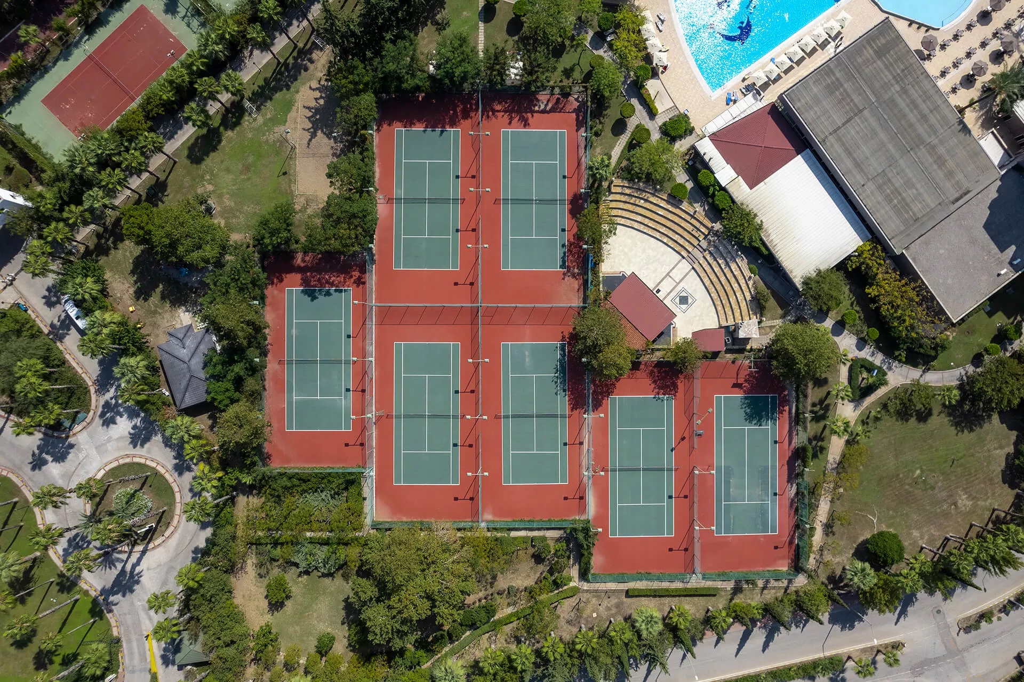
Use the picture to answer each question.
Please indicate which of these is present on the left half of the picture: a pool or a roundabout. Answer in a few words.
roundabout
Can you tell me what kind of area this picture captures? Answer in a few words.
sports ground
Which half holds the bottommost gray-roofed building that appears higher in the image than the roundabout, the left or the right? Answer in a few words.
left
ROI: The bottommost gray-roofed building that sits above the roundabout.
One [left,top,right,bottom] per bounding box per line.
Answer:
[160,324,221,410]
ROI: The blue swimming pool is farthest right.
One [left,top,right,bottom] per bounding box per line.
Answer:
[873,0,976,28]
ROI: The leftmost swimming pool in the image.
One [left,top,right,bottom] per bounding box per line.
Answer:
[669,0,852,96]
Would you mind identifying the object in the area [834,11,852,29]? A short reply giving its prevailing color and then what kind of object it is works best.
white umbrella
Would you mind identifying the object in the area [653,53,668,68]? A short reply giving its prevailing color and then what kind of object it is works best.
white umbrella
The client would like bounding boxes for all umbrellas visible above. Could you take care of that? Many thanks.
[965,61,987,78]
[750,69,768,88]
[916,35,937,53]
[809,27,827,46]
[822,20,840,38]
[773,55,791,73]
[982,0,1004,15]
[653,53,668,68]
[649,37,663,55]
[834,11,852,29]
[762,63,780,81]
[785,45,804,62]
[797,36,815,54]
[992,35,1013,53]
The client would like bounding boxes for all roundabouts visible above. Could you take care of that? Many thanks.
[83,453,183,554]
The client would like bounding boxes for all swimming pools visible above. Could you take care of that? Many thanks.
[873,0,976,28]
[669,0,852,96]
